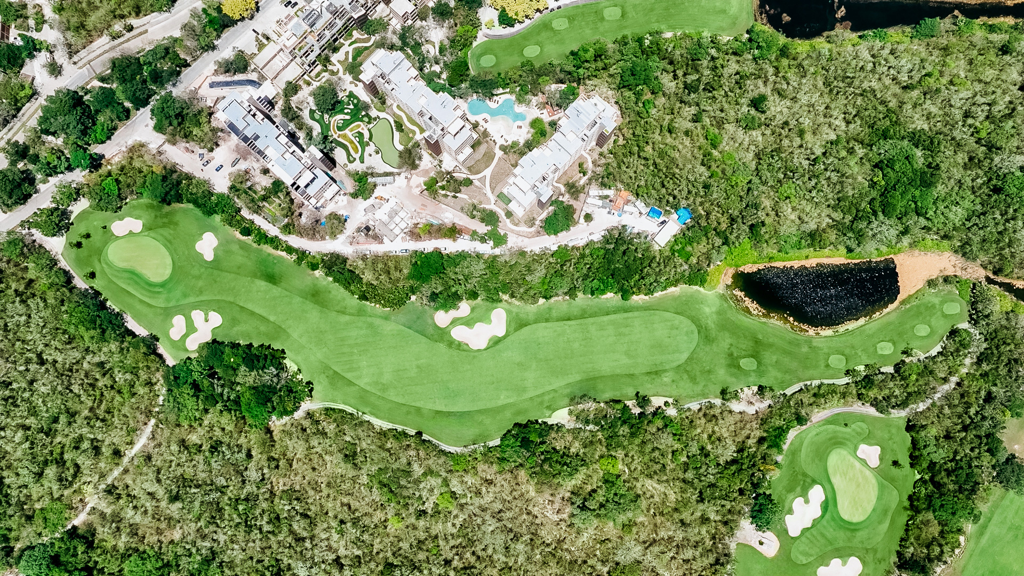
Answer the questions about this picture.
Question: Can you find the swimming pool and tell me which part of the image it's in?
top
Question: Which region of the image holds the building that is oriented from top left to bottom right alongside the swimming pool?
top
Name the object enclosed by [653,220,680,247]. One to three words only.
shed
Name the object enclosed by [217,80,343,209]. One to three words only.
building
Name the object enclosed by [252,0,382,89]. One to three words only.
building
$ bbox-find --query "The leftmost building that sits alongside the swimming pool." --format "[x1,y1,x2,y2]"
[358,49,482,168]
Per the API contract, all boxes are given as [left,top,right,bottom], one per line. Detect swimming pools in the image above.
[467,97,527,132]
